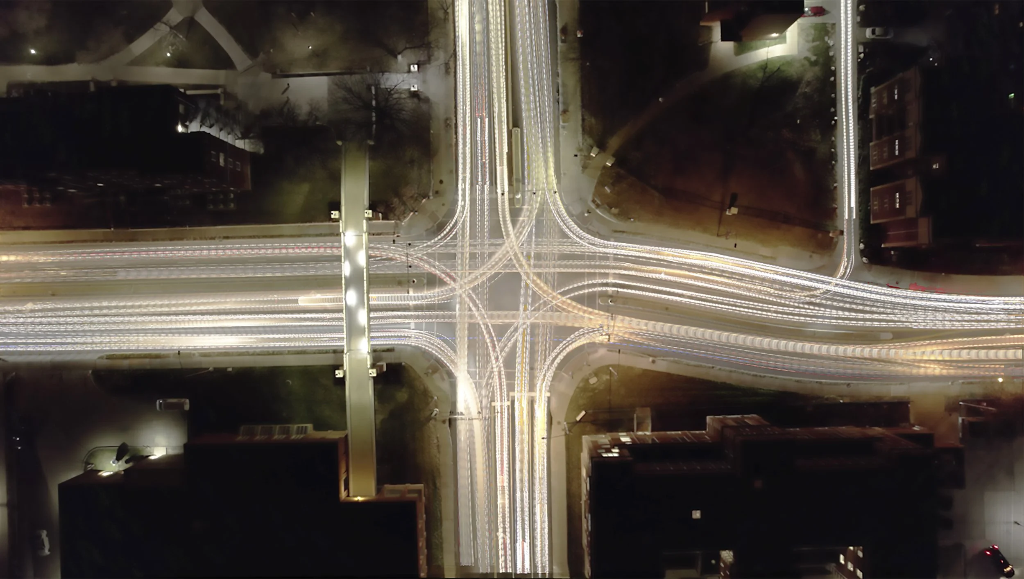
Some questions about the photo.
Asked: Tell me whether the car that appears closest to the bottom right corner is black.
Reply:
Yes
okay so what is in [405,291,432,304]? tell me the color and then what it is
white vehicle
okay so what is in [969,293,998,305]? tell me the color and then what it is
white vehicle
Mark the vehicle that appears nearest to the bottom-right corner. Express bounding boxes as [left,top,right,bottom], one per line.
[989,547,1011,571]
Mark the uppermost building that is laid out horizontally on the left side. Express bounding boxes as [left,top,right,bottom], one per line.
[0,86,196,127]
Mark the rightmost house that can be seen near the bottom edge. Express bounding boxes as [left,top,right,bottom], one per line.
[583,415,989,579]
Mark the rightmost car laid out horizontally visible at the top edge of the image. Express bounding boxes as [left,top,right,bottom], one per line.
[865,26,892,38]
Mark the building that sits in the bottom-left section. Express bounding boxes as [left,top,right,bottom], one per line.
[58,430,426,579]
